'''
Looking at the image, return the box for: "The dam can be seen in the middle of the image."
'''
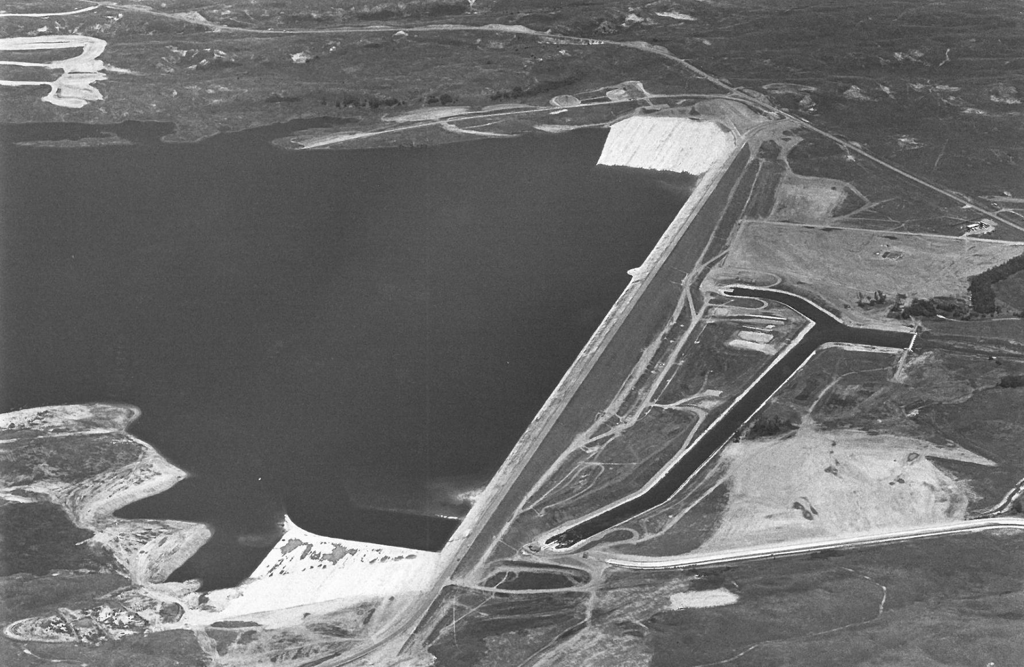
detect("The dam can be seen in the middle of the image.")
[390,142,751,667]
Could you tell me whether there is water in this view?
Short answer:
Yes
